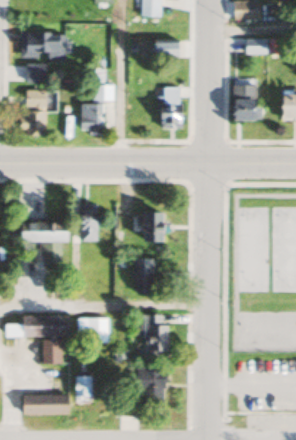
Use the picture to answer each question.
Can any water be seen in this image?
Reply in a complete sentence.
No, there's no water in this view.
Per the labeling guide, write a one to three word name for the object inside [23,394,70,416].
building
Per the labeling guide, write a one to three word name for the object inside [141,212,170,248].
house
